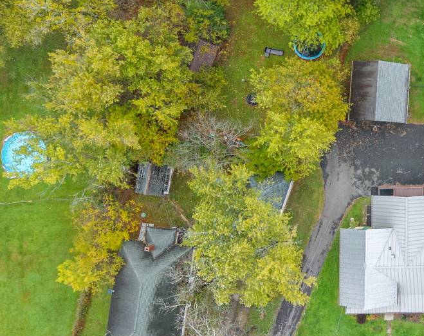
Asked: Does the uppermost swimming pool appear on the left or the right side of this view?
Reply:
left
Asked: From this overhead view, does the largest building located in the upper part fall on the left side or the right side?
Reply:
right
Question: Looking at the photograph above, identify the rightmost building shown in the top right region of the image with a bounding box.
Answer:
[349,59,412,124]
